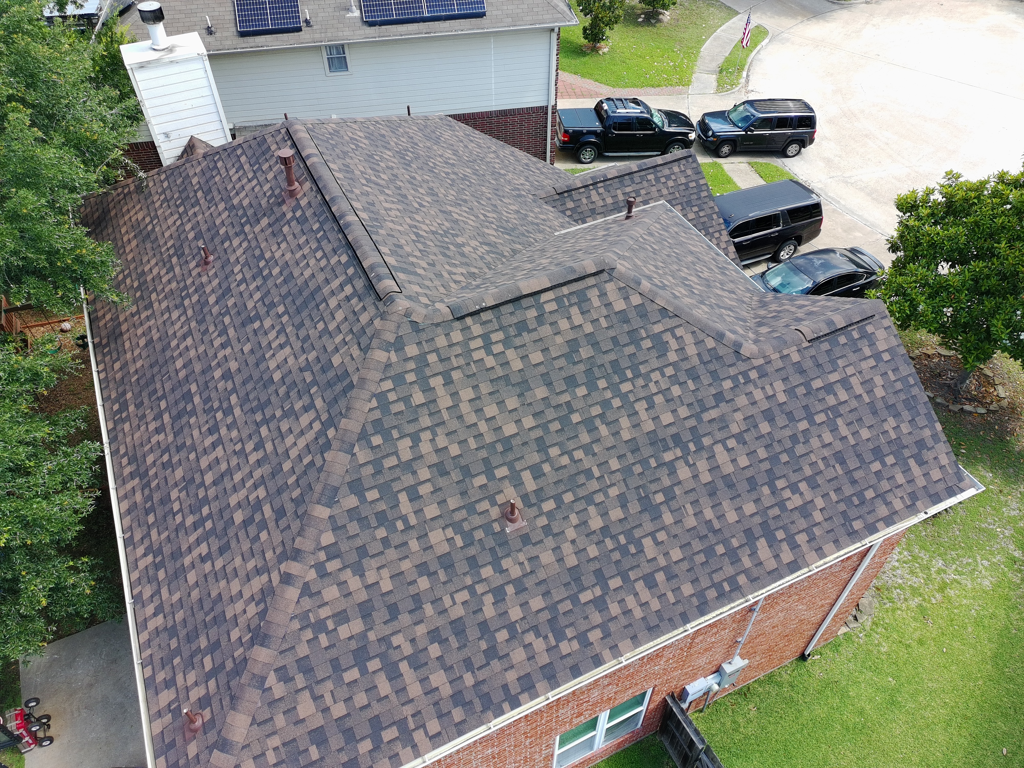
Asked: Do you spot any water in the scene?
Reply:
No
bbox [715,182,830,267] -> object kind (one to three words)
car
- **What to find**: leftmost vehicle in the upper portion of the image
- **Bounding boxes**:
[554,92,701,164]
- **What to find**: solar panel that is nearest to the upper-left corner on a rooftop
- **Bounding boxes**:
[236,0,303,38]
